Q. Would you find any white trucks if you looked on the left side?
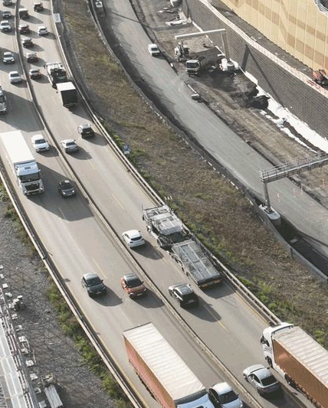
Yes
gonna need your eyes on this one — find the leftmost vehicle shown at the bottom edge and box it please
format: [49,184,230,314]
[123,323,219,408]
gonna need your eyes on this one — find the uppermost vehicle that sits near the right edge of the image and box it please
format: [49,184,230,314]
[311,62,328,84]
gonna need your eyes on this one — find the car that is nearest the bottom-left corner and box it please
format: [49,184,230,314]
[79,270,109,300]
